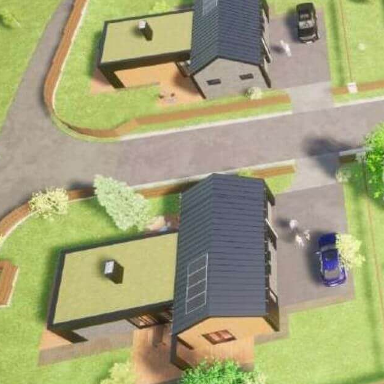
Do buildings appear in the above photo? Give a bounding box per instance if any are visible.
[37,171,290,384]
[85,0,275,106]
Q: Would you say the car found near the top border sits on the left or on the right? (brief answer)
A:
right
